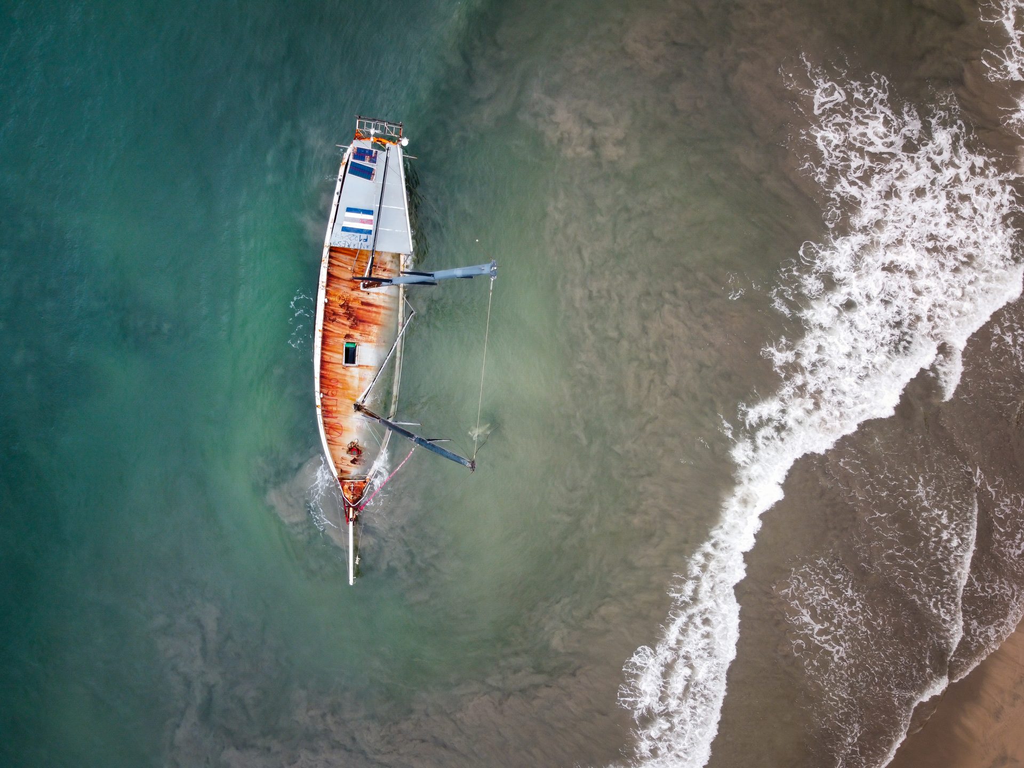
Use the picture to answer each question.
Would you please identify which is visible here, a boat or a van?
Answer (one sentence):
I can see a boat in this picture.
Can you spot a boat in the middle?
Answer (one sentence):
Yes, a boat is visible in the middle.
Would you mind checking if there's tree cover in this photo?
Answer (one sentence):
No, there's no tree cover in this view.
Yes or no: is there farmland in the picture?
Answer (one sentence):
No, no farmland is visible.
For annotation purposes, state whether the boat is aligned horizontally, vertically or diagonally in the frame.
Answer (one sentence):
In this picture, the boat is oriented vertically.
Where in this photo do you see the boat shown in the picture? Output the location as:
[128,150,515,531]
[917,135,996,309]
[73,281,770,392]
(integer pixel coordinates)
[314,116,508,585]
